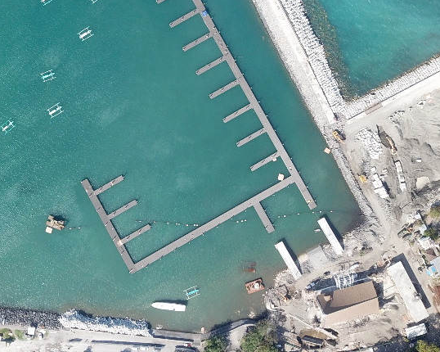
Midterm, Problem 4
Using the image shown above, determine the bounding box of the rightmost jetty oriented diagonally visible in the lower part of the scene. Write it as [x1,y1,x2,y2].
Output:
[316,216,344,254]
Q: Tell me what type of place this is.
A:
port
